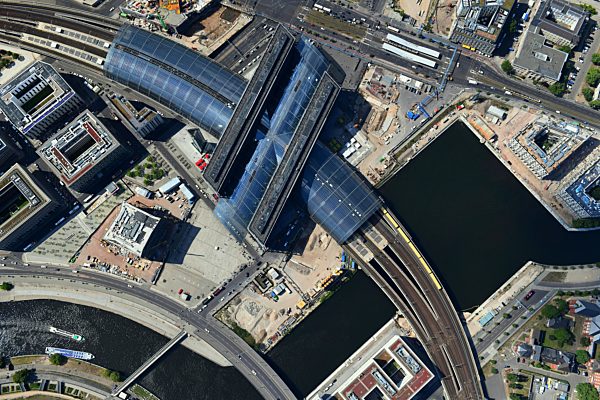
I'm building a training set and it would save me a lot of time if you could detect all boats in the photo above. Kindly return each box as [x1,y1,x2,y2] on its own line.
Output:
[45,346,96,360]
[49,326,84,341]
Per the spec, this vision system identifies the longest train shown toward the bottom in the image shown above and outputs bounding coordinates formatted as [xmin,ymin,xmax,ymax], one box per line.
[383,207,446,296]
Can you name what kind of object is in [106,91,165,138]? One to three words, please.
building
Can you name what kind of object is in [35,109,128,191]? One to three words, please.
building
